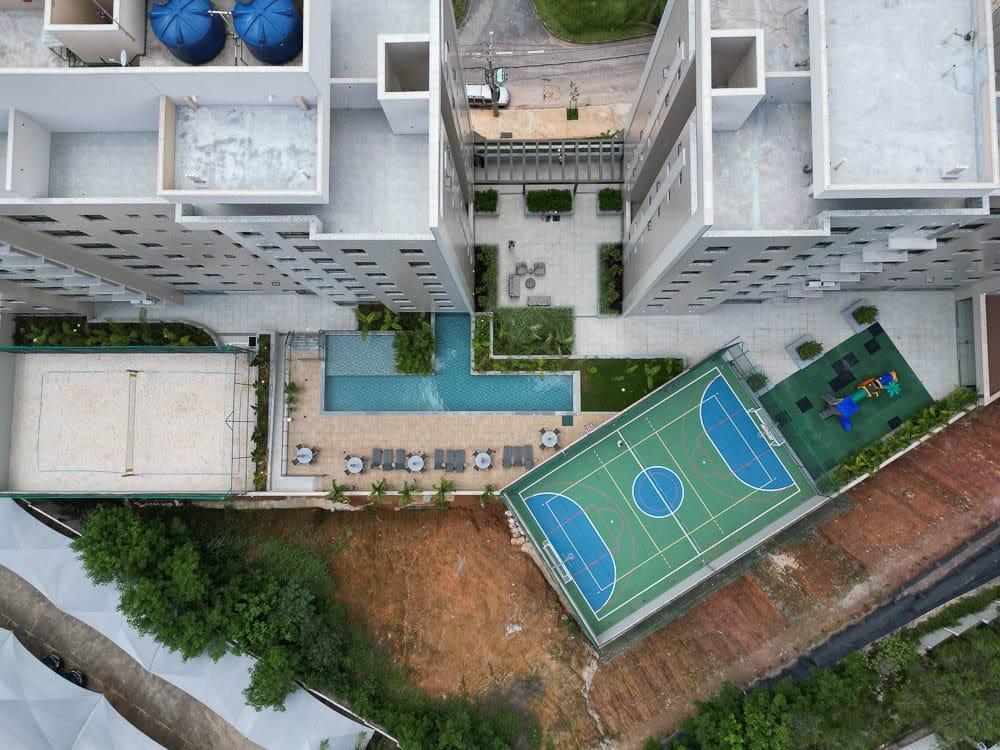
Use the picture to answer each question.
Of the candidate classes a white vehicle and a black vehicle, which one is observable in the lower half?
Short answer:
black vehicle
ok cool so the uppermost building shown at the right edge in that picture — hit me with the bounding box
[620,0,1000,315]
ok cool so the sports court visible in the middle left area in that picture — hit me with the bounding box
[12,352,252,491]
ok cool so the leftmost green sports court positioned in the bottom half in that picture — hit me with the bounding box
[502,346,824,641]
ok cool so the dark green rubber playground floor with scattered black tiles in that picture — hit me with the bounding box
[767,321,936,481]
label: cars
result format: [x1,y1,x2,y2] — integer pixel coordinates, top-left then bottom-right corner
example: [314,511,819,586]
[64,662,94,688]
[39,644,69,674]
[463,78,508,107]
